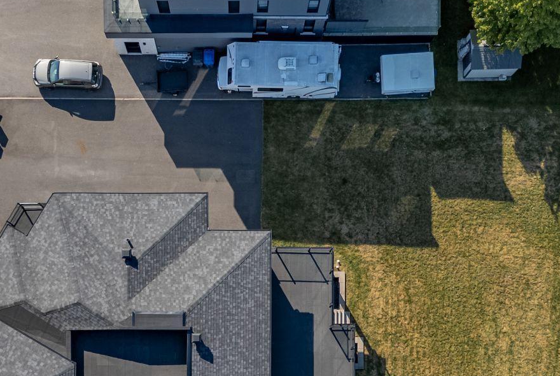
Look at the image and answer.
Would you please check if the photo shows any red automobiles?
No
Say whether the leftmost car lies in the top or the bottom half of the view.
top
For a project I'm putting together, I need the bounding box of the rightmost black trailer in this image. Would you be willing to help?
[139,68,187,98]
